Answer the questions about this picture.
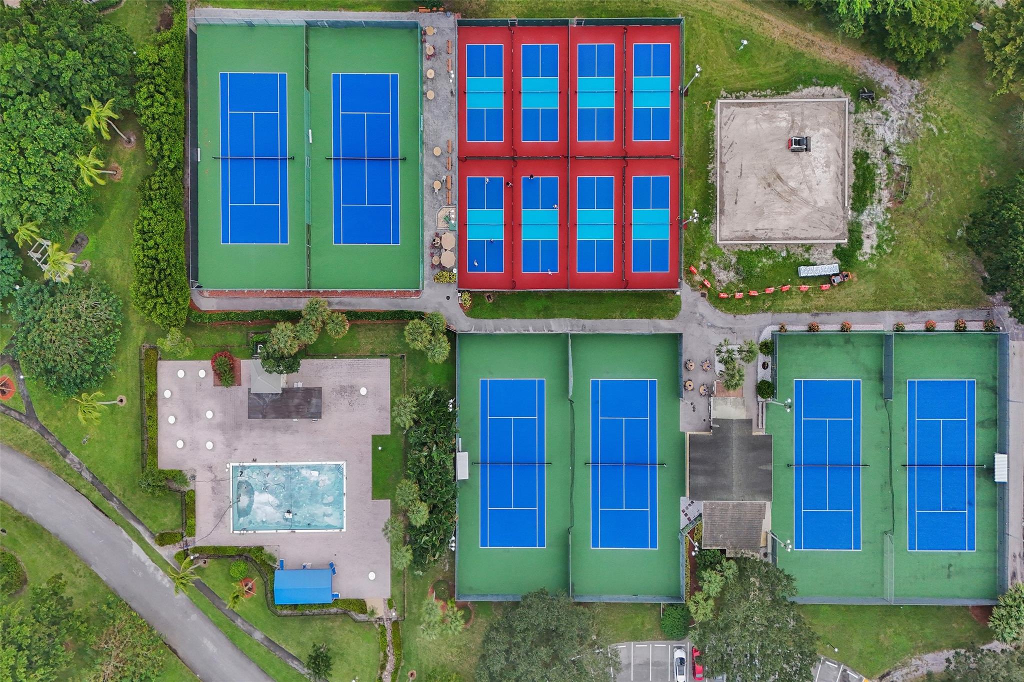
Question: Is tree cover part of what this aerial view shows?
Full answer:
Yes, tree cover shows up in the scene.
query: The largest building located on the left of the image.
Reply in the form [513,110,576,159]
[248,387,324,419]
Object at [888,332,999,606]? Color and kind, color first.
green tennis court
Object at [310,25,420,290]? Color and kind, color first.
green tennis court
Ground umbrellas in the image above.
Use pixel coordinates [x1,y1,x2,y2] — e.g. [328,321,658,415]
[440,231,456,251]
[439,249,456,270]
